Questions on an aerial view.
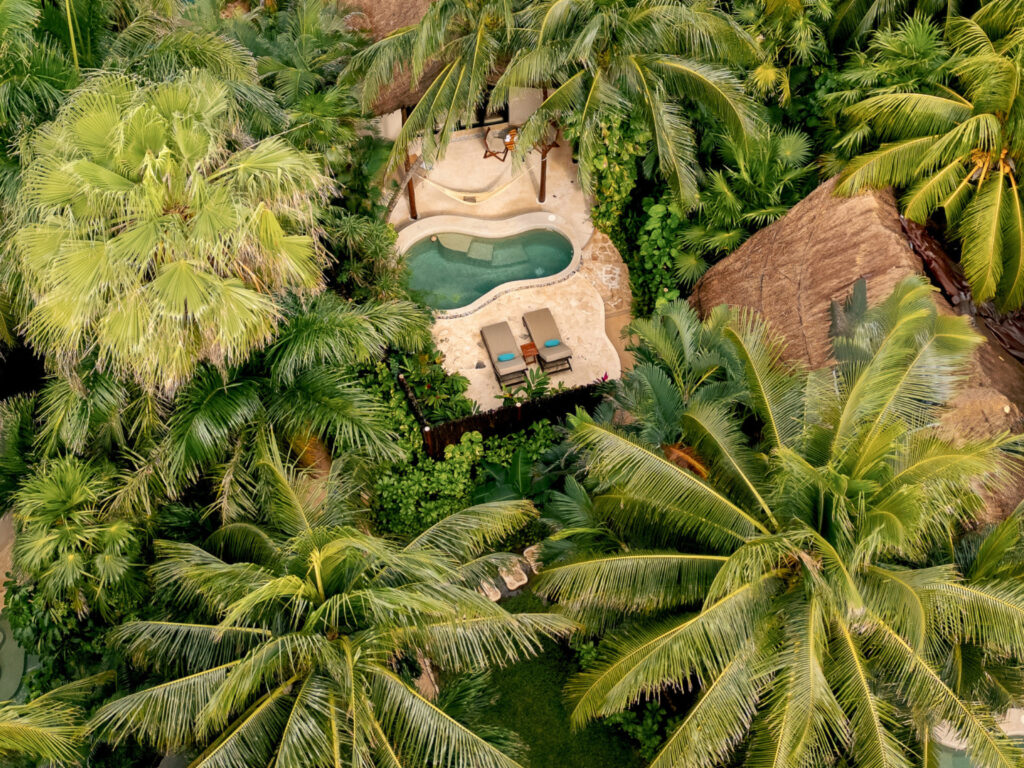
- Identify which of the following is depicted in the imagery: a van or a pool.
pool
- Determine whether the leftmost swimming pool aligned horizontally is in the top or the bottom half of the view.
top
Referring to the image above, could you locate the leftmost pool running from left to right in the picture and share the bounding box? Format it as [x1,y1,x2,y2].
[388,210,593,321]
